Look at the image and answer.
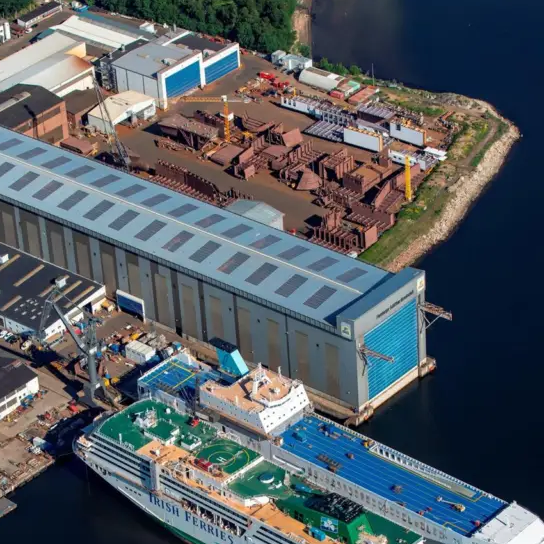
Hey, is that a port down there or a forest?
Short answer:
port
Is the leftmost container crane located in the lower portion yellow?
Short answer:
No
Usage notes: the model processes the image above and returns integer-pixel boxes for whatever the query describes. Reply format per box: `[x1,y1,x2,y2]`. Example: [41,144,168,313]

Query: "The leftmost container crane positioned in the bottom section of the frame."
[37,294,110,413]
